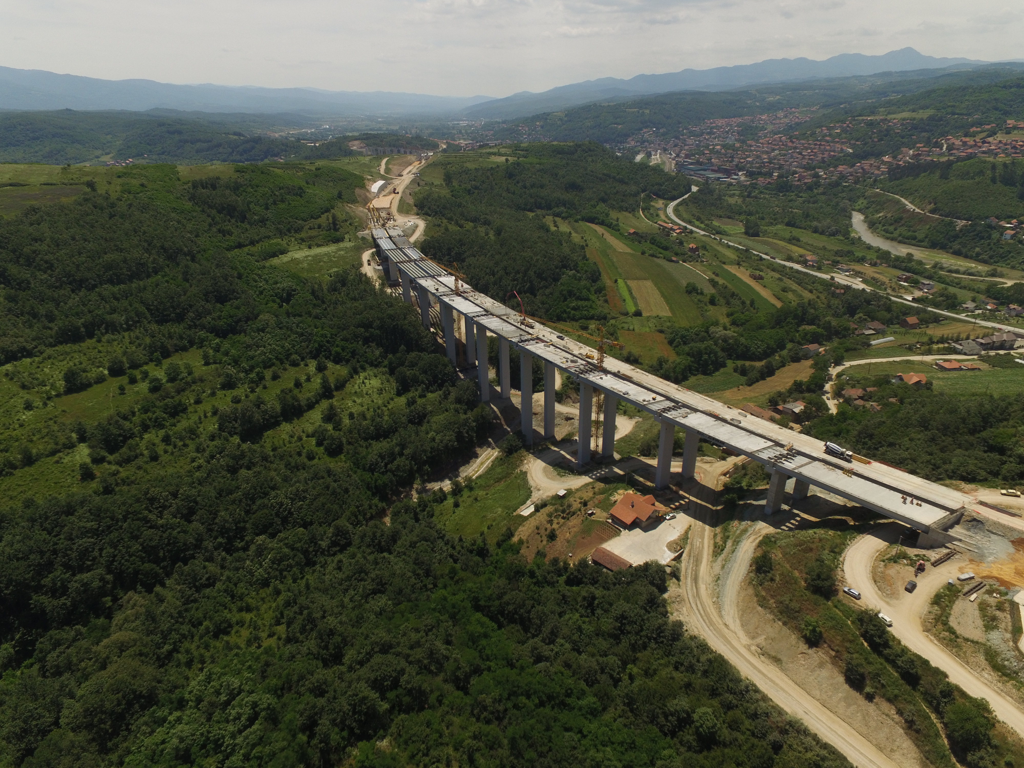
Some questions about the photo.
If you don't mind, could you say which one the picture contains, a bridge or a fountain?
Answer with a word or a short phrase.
bridge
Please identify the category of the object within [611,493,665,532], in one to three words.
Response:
house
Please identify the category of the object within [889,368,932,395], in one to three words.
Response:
house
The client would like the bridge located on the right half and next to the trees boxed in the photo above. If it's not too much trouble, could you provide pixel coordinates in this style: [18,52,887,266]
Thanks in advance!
[370,228,976,556]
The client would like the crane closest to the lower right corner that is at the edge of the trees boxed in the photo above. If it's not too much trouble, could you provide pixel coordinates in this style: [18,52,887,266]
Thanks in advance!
[517,310,625,464]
